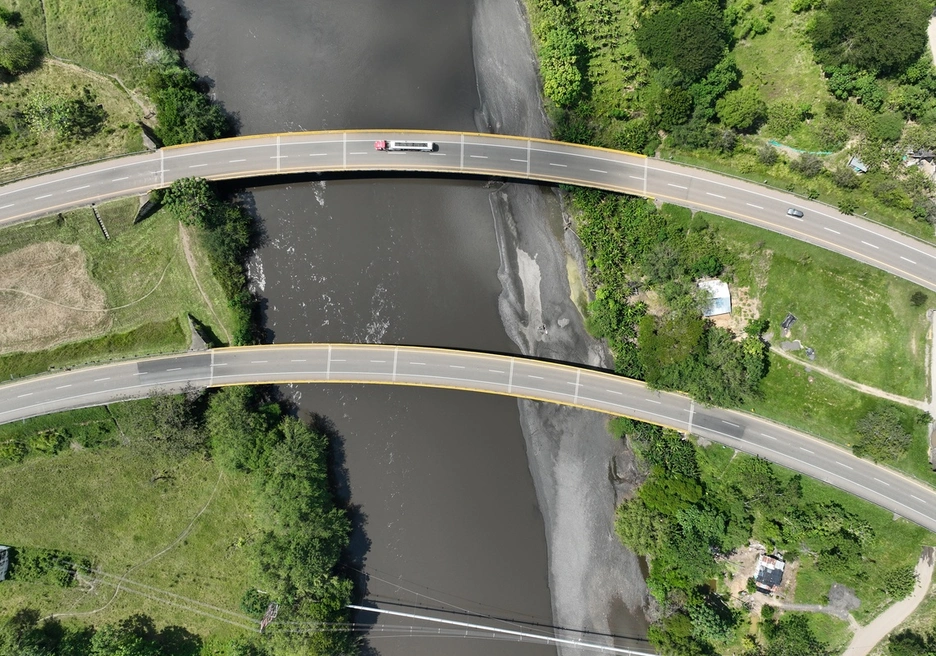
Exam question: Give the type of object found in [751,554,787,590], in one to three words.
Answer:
house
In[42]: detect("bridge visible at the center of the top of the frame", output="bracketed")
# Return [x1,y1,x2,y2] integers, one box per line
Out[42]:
[155,130,653,198]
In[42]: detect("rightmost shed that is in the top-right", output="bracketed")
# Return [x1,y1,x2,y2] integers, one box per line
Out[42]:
[906,151,935,169]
